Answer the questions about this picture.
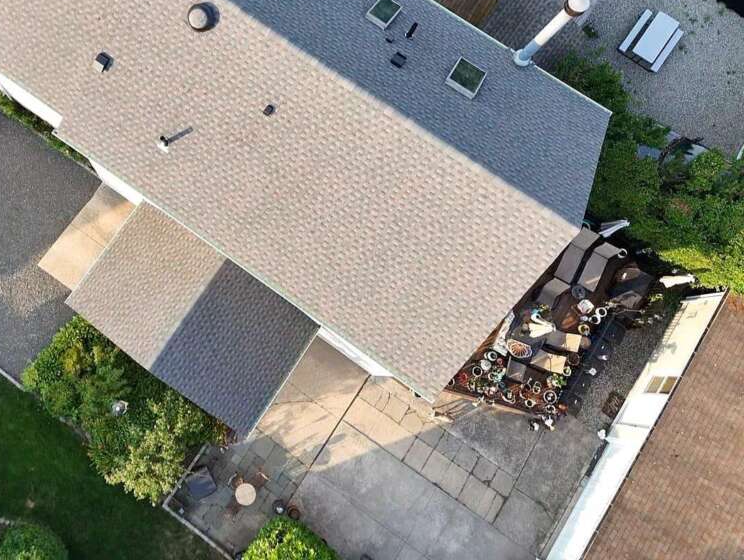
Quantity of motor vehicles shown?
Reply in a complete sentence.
The count of motor vehicles is 0.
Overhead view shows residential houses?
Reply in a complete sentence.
Yes, this view includes a residential house.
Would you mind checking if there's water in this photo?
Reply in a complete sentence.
No, the scene doesn't show any water.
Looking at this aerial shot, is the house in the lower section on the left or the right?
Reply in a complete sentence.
The house in the lower section sits on the right side.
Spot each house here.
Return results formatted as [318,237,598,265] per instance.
[0,0,612,438]
[534,287,744,560]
